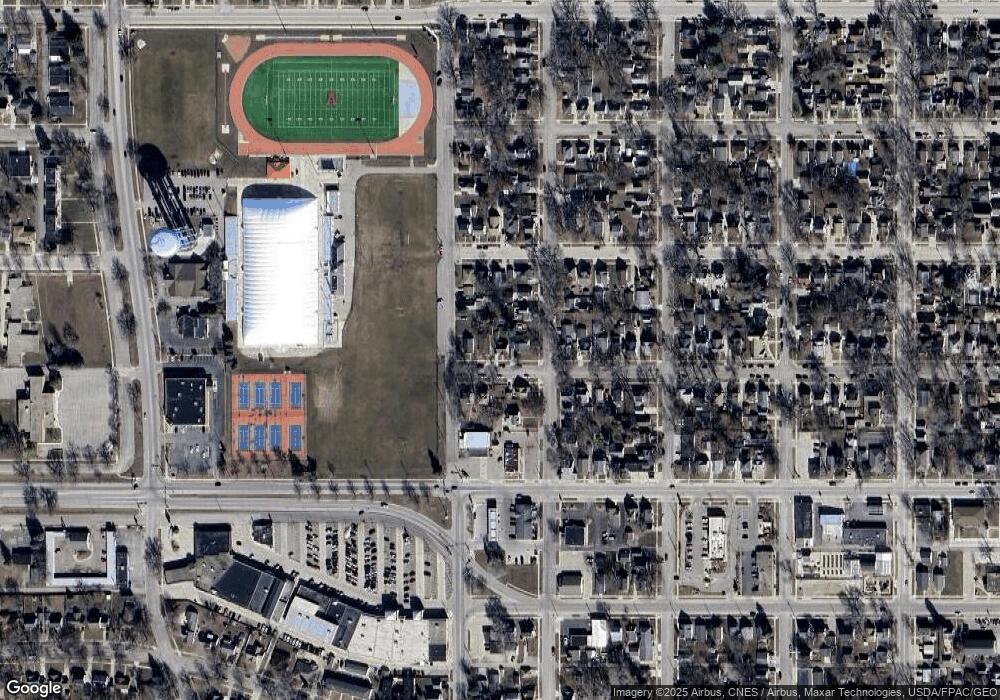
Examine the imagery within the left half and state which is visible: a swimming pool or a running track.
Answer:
running track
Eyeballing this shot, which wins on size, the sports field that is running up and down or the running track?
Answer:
the sports field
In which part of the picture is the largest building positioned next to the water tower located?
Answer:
left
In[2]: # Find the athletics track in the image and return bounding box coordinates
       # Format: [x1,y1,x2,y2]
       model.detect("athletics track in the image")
[229,43,433,155]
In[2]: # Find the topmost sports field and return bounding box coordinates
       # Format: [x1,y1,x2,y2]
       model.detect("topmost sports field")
[243,57,399,142]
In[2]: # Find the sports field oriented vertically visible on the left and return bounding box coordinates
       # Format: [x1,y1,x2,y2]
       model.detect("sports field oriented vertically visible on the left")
[308,175,437,478]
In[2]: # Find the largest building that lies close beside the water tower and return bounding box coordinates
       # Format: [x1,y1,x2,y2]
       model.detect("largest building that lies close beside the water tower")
[166,264,208,297]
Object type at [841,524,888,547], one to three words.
shed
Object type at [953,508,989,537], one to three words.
building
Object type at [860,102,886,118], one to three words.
house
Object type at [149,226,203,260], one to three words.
water tower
